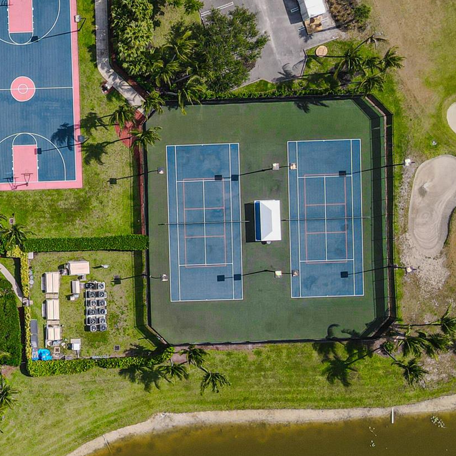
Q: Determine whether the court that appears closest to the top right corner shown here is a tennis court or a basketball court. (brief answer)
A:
tennis court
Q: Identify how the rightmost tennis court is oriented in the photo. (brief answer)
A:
vertically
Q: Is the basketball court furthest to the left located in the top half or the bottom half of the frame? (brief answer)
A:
top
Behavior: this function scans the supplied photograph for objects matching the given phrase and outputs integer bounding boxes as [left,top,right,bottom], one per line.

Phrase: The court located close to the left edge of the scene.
[0,0,77,184]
